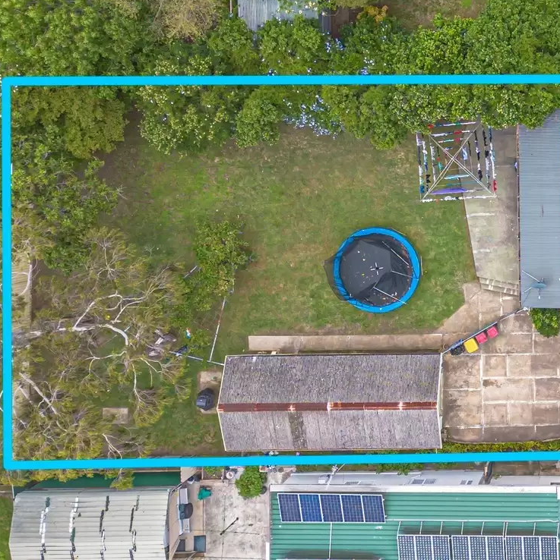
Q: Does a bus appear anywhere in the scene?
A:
No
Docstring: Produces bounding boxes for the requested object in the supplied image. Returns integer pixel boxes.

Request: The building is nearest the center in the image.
[215,350,448,452]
